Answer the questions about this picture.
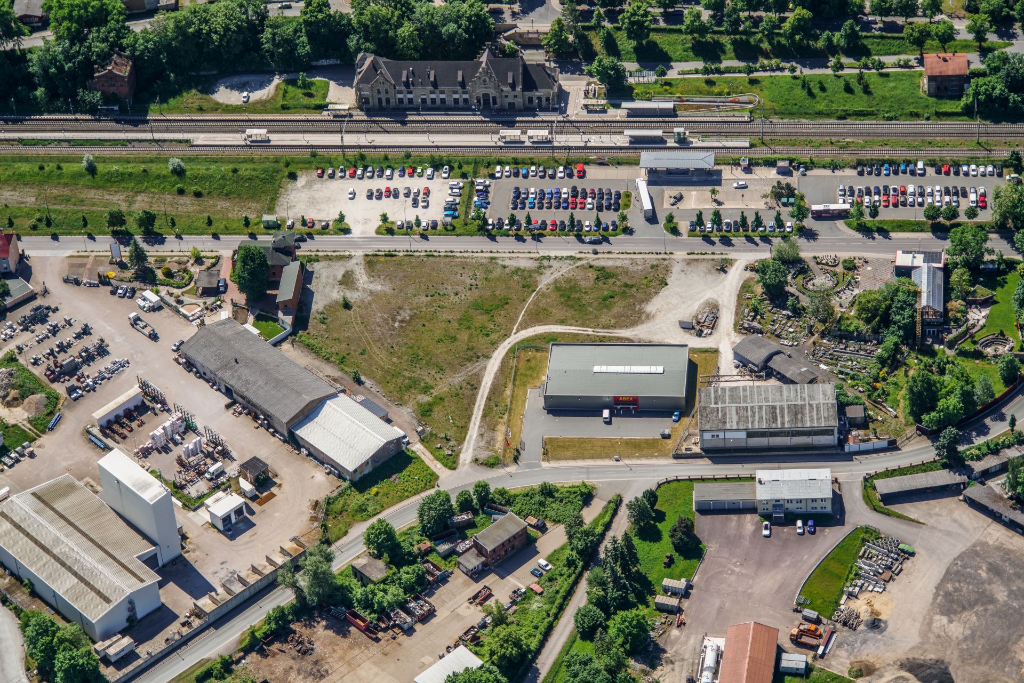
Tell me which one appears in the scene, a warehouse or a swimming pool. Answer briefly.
warehouse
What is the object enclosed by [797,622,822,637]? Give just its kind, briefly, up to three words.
vehicle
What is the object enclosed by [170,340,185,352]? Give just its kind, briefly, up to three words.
vehicle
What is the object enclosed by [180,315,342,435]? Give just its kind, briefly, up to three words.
warehouse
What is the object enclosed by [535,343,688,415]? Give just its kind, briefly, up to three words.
building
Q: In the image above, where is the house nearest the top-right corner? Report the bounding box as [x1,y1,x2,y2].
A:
[923,49,969,93]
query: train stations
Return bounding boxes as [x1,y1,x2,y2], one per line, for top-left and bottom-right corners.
[351,39,558,110]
